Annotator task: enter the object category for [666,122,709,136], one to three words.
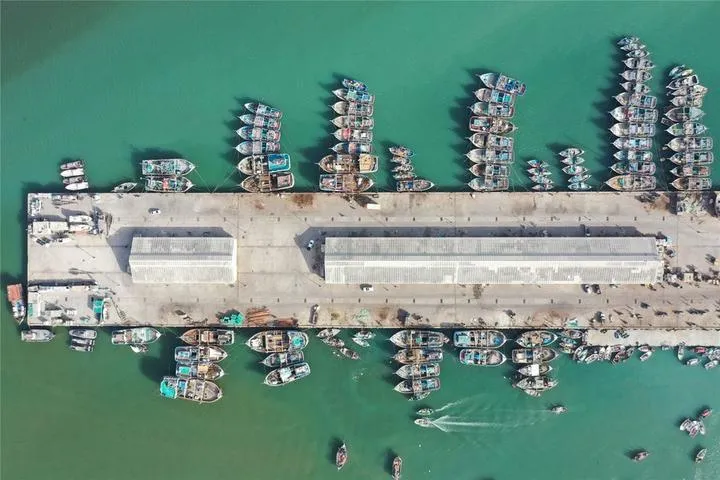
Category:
boat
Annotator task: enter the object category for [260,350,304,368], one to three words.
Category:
boat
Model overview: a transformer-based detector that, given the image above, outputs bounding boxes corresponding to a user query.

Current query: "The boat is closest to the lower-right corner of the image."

[695,448,707,462]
